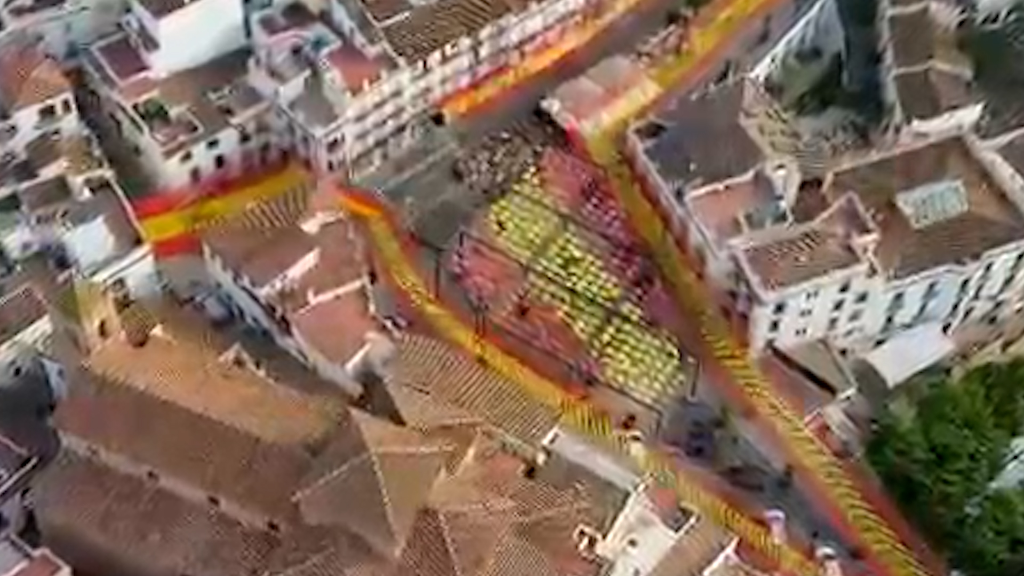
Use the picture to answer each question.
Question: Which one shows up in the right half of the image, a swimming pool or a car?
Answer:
car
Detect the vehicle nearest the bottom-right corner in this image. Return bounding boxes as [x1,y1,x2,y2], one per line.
[723,456,775,498]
